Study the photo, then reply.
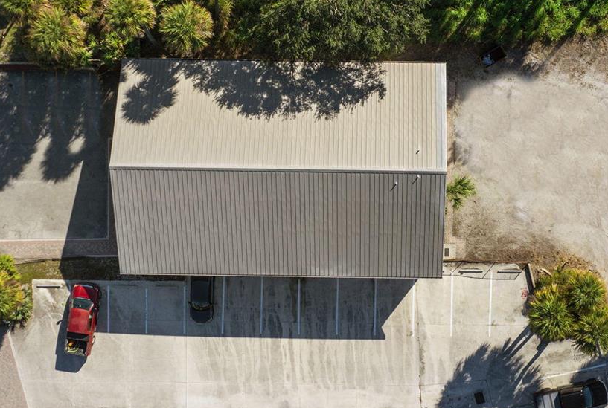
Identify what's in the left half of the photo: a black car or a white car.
black car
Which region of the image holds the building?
center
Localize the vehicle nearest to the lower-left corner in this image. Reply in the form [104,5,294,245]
[63,282,101,358]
